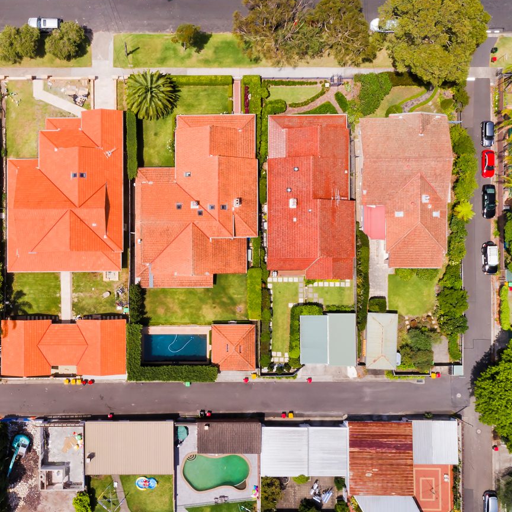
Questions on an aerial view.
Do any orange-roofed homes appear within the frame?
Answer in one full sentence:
Yes, the image includes an orange-roofed home.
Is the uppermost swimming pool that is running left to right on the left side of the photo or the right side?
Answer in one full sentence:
The uppermost swimming pool that is running left to right appears in the left half of the scene.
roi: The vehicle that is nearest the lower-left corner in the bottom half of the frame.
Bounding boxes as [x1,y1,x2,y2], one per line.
[5,428,33,481]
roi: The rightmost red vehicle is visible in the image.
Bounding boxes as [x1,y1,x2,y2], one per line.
[479,149,495,179]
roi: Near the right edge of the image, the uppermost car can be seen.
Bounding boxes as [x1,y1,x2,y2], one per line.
[479,121,495,148]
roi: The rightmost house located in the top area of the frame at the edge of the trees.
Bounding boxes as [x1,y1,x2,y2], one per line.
[357,111,455,268]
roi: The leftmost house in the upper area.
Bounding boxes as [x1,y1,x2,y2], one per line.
[6,107,123,273]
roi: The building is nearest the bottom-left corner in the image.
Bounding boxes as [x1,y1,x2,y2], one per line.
[36,421,87,491]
